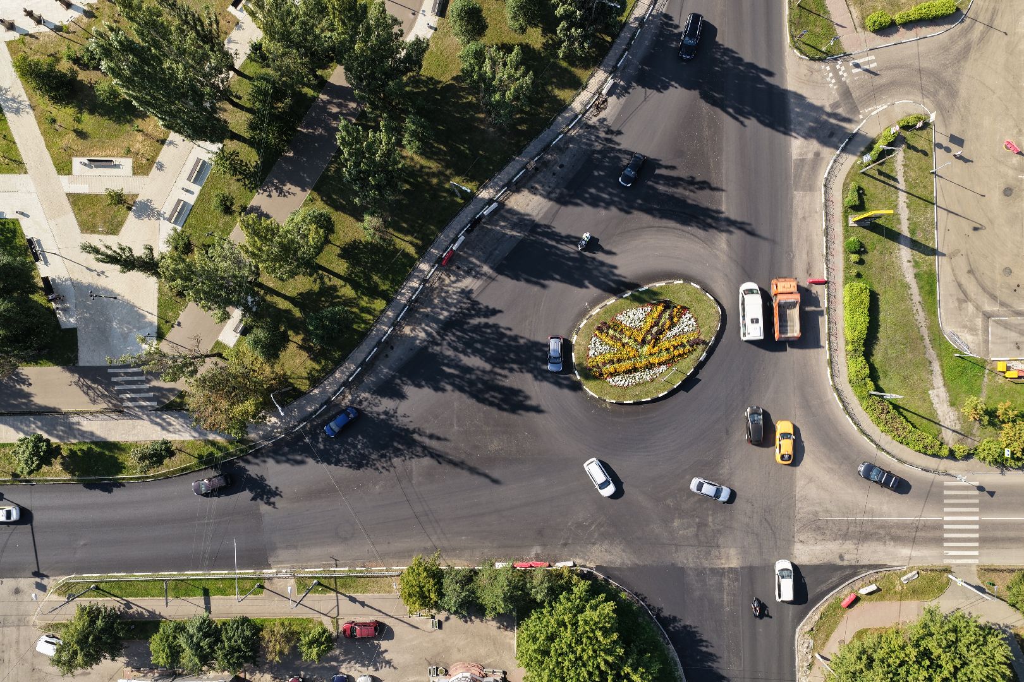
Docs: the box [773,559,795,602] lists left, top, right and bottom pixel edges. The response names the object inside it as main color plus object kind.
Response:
white car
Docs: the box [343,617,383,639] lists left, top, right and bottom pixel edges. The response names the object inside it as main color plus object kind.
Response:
red car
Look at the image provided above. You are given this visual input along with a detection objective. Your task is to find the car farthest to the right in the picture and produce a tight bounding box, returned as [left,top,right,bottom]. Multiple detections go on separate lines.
[855,460,902,490]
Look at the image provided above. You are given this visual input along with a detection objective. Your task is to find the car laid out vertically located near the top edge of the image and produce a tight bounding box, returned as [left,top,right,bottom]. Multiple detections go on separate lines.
[678,13,703,61]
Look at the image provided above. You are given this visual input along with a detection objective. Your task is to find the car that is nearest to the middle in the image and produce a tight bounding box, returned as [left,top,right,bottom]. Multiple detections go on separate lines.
[545,334,565,373]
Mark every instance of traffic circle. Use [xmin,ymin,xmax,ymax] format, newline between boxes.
[573,280,722,402]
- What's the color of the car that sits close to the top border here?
black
